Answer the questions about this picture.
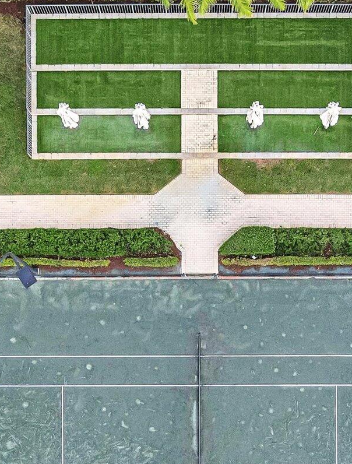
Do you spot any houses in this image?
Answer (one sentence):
No, no house is visible in the scene.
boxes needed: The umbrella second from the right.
[246,100,267,132]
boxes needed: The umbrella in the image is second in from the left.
[133,100,152,129]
